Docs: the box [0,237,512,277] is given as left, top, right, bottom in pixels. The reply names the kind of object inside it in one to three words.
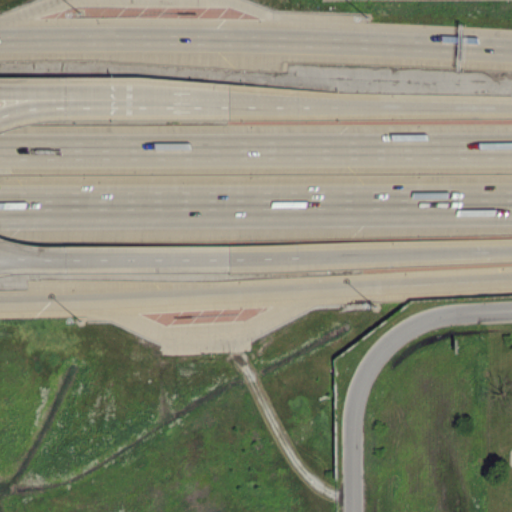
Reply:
overpass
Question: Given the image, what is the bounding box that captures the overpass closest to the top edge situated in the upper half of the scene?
[0,76,512,134]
